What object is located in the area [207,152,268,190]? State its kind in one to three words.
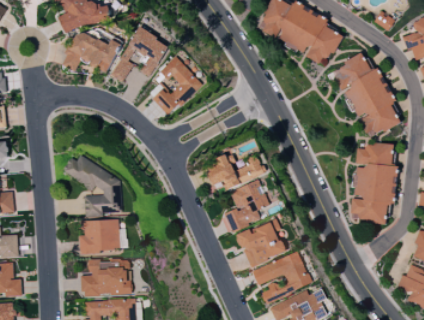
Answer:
house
